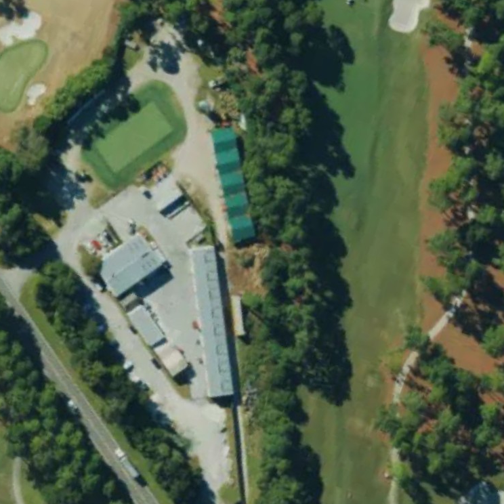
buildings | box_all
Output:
[150,178,183,212]
[210,128,255,241]
[126,305,165,346]
[188,247,233,397]
[152,345,187,376]
[100,234,166,298]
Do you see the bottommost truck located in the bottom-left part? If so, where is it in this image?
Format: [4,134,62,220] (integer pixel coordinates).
[116,447,141,480]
